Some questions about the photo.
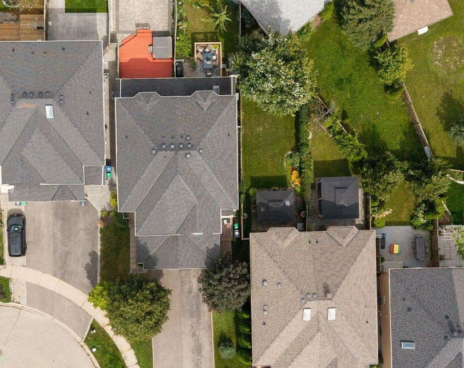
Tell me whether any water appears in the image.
No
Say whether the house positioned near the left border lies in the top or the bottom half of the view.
top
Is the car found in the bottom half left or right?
left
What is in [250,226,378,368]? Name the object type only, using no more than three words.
house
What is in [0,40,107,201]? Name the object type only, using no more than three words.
house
